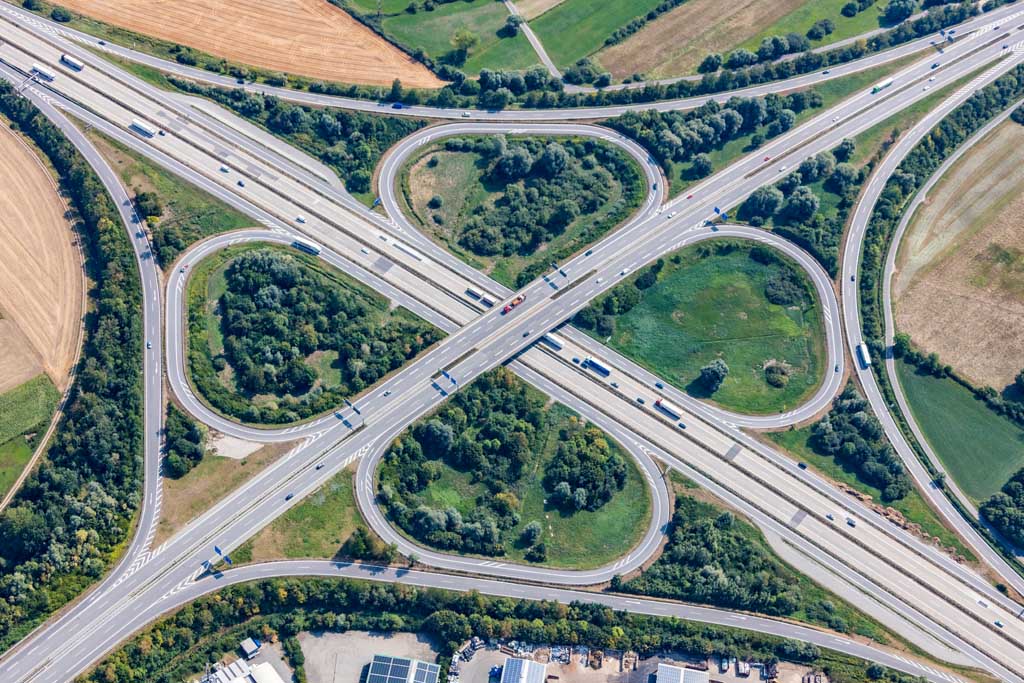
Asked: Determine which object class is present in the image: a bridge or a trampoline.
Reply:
bridge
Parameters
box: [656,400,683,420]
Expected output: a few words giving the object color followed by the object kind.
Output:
white vehicle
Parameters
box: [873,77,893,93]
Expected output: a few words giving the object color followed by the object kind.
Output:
white vehicle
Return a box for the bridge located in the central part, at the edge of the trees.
[453,283,573,364]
